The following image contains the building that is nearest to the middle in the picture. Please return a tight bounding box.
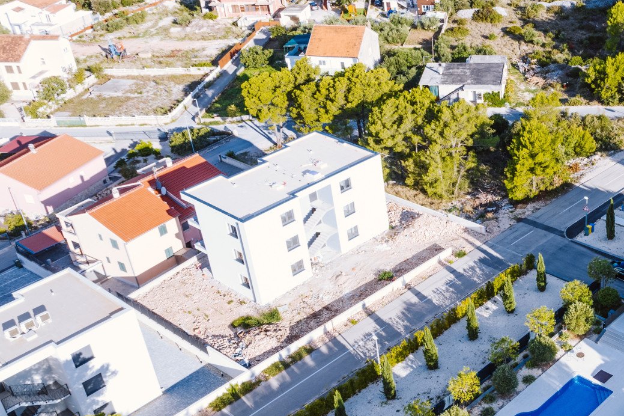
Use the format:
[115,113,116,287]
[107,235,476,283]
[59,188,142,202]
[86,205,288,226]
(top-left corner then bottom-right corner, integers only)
[172,133,390,303]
